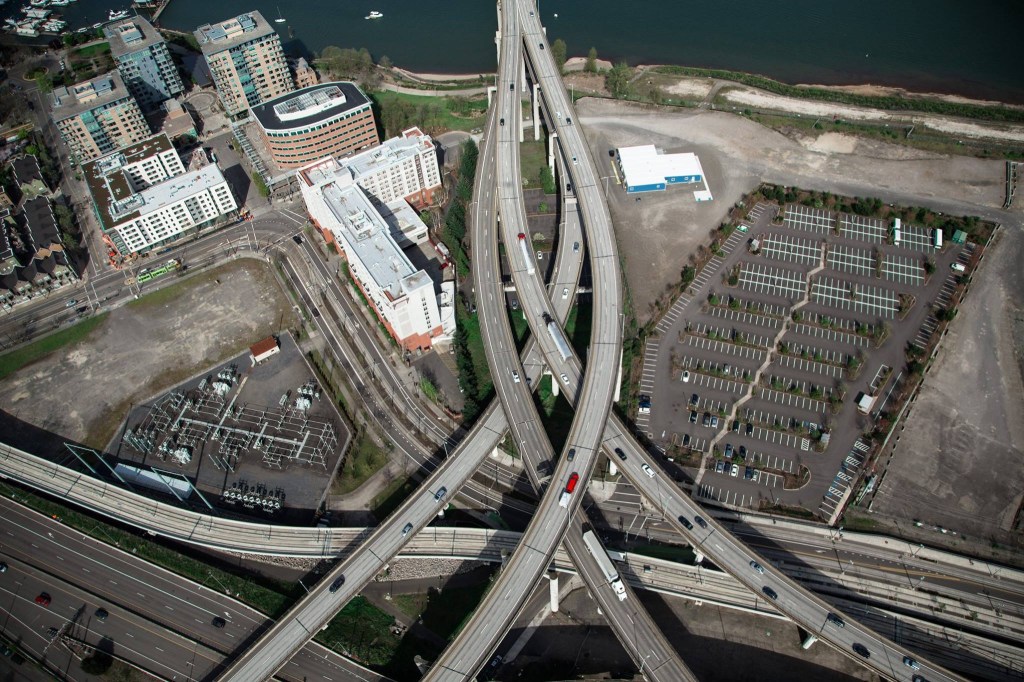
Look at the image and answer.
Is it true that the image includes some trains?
Yes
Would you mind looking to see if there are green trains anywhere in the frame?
Yes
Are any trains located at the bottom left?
No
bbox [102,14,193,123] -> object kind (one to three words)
building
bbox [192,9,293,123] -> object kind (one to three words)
building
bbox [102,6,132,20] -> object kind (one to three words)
boat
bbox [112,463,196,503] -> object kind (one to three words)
shed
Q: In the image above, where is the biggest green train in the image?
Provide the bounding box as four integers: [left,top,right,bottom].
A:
[136,260,180,284]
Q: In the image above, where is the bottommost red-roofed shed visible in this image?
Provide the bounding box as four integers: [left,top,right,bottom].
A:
[249,336,280,361]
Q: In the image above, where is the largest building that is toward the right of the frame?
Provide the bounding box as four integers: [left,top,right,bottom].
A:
[617,145,701,193]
